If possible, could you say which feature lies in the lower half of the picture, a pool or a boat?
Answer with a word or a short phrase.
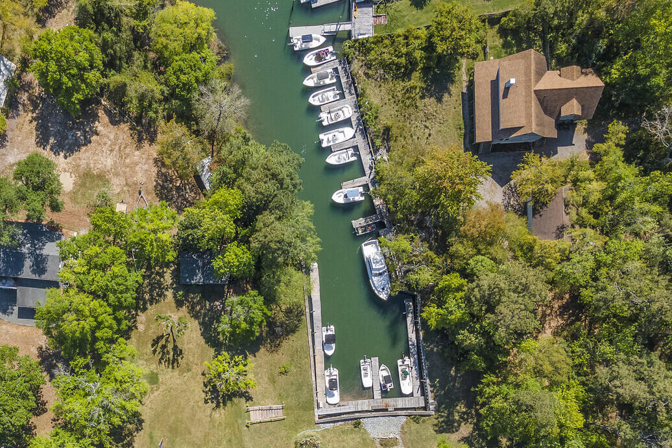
boat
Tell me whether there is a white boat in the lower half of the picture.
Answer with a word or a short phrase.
Yes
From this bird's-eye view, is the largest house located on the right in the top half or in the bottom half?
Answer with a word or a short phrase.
top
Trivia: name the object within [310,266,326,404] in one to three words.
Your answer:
pier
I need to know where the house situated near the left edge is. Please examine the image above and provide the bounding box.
[0,224,78,310]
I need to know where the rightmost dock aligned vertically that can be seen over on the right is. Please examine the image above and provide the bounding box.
[400,297,422,396]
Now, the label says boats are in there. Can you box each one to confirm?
[313,129,356,150]
[308,87,344,103]
[303,69,341,86]
[325,149,360,164]
[303,46,341,65]
[314,106,354,130]
[397,351,414,395]
[380,365,394,391]
[286,32,326,56]
[332,184,372,203]
[324,361,341,405]
[359,352,378,388]
[348,223,377,236]
[323,318,339,356]
[361,235,390,301]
